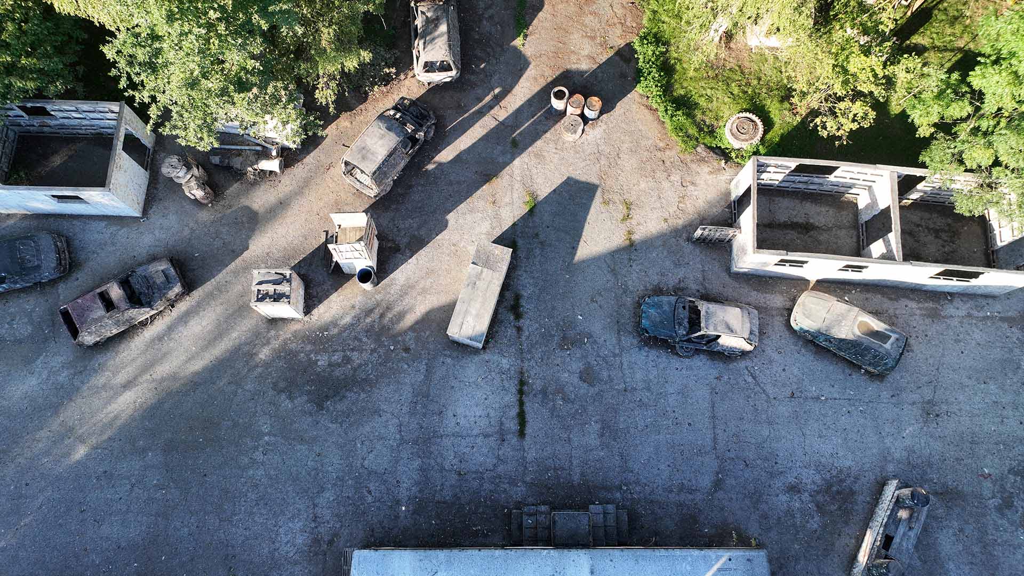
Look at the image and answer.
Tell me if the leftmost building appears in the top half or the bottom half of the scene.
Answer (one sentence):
You can find the leftmost building in the top half.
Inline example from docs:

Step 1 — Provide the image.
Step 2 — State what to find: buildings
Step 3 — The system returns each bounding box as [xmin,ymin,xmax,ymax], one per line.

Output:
[733,154,1024,301]
[349,548,770,576]
[0,99,156,215]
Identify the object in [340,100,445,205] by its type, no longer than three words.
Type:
car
